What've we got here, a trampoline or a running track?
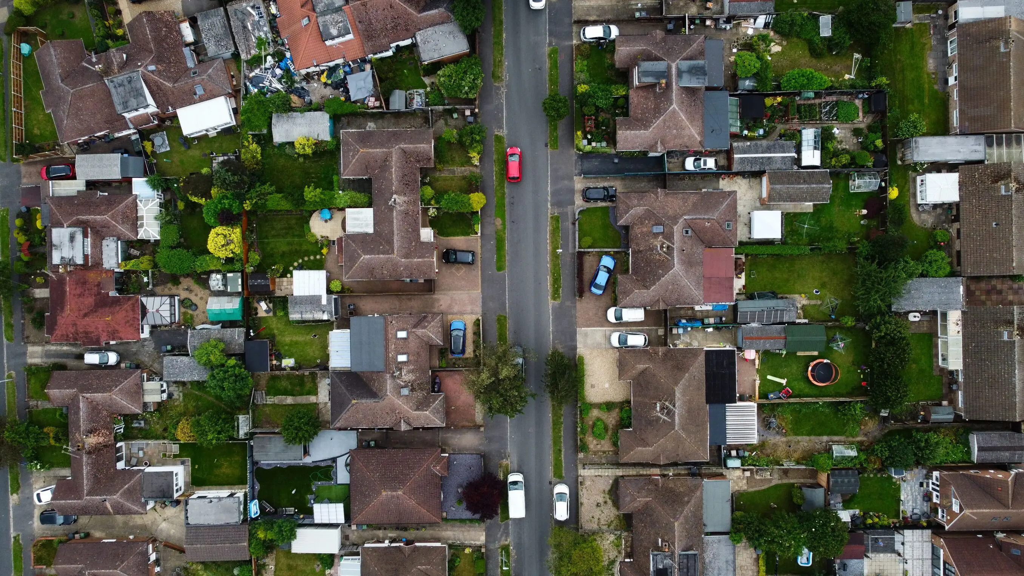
trampoline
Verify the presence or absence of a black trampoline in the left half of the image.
No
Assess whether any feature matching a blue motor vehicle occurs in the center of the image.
Yes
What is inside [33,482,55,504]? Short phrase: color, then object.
white car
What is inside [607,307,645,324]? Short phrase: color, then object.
white vehicle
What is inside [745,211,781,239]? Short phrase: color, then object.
white gazebo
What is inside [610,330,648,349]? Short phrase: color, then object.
white car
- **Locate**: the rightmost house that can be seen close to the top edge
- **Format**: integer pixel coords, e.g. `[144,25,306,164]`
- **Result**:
[946,0,1024,136]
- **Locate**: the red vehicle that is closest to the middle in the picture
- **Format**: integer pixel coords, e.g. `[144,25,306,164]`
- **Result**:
[505,147,523,183]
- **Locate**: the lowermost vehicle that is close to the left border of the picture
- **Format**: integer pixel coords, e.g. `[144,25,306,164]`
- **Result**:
[39,508,79,528]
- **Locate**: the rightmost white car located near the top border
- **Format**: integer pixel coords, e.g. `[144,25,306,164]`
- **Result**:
[581,23,618,49]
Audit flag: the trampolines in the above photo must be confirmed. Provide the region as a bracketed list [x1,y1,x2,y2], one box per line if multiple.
[809,357,842,386]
